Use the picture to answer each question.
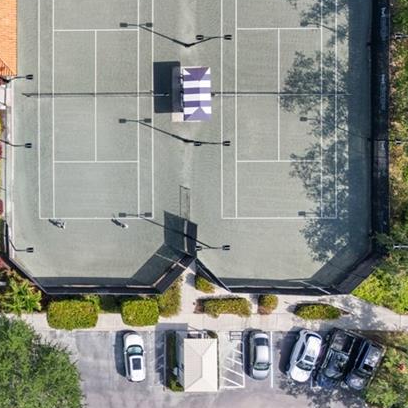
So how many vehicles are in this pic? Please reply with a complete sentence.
The picture shows 5 vehicles.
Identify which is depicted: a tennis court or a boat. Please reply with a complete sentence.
It is a tennis court that can be seen here.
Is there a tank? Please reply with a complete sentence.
No, there is no tank in the image.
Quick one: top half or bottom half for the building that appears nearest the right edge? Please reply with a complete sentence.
The building that appears nearest the right edge is in the bottom half of the image.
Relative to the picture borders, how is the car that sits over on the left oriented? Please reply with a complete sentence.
The car that sits over on the left runs vertically in the image.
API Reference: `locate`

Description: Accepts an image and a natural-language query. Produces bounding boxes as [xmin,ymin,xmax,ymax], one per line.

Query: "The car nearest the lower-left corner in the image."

[123,330,147,382]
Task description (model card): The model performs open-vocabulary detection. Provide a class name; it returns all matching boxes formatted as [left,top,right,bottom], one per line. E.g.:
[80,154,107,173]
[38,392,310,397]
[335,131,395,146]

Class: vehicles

[247,328,273,379]
[315,328,360,386]
[286,327,322,382]
[343,334,387,392]
[123,330,147,382]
